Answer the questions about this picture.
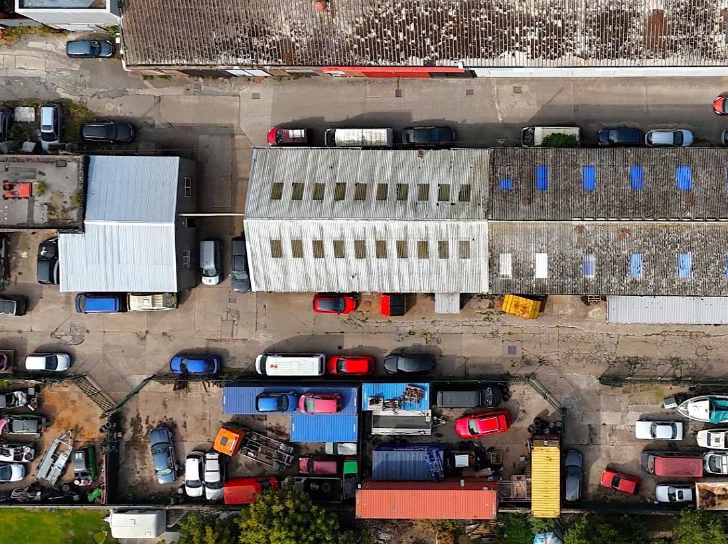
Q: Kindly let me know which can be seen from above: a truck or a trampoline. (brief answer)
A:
truck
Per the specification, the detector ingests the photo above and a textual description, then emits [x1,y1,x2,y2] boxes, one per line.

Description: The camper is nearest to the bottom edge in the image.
[104,511,166,543]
